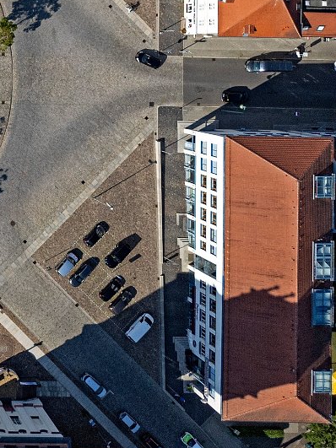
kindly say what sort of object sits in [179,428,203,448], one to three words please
car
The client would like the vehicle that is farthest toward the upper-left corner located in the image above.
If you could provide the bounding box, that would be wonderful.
[134,49,165,67]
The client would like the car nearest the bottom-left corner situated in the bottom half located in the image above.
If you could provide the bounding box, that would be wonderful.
[80,371,107,397]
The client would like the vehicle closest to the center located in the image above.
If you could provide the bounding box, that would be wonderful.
[103,239,134,268]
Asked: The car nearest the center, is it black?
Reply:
Yes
